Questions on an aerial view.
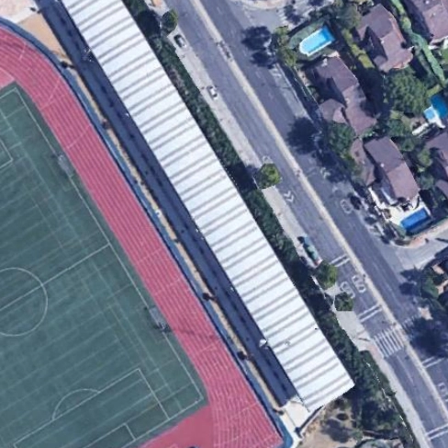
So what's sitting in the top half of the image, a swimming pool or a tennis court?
swimming pool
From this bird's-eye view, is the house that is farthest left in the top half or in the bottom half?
top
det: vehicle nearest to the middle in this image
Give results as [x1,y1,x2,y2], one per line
[303,236,323,262]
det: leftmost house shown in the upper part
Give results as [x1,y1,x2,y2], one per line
[314,57,376,135]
